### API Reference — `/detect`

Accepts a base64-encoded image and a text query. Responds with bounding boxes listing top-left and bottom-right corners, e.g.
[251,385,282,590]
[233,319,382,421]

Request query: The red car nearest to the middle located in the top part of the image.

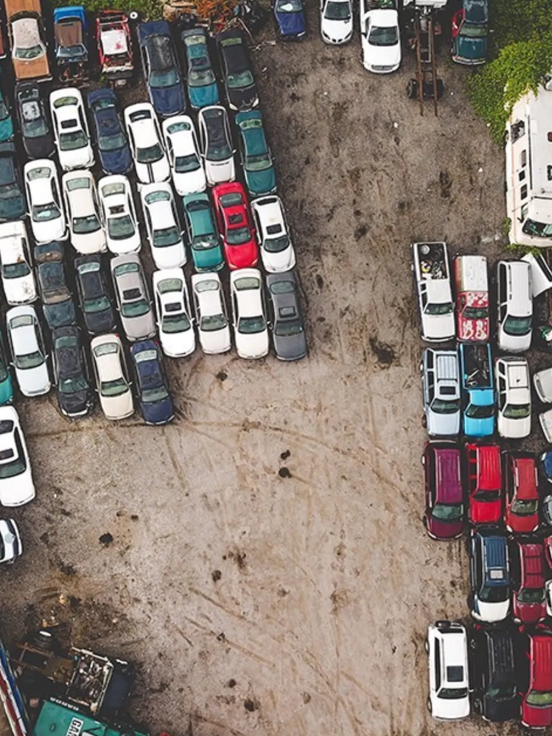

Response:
[215,179,259,271]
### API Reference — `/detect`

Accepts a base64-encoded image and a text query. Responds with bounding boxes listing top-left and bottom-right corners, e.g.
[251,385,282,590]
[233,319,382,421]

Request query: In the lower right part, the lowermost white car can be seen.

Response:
[424,617,470,722]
